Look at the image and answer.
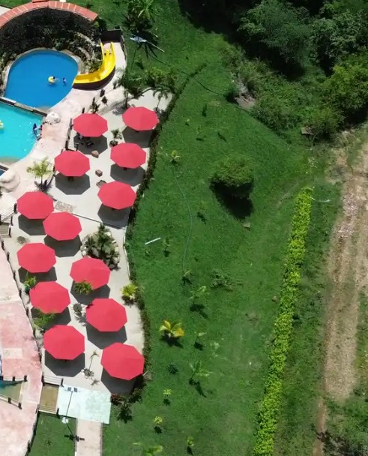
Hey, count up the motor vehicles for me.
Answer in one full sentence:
The photo contains no motor vehicles.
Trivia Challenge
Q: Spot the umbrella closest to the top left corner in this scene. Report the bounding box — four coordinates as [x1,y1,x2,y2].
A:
[73,114,108,138]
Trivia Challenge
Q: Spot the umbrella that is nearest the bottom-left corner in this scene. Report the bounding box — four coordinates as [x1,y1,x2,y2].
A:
[42,326,84,361]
